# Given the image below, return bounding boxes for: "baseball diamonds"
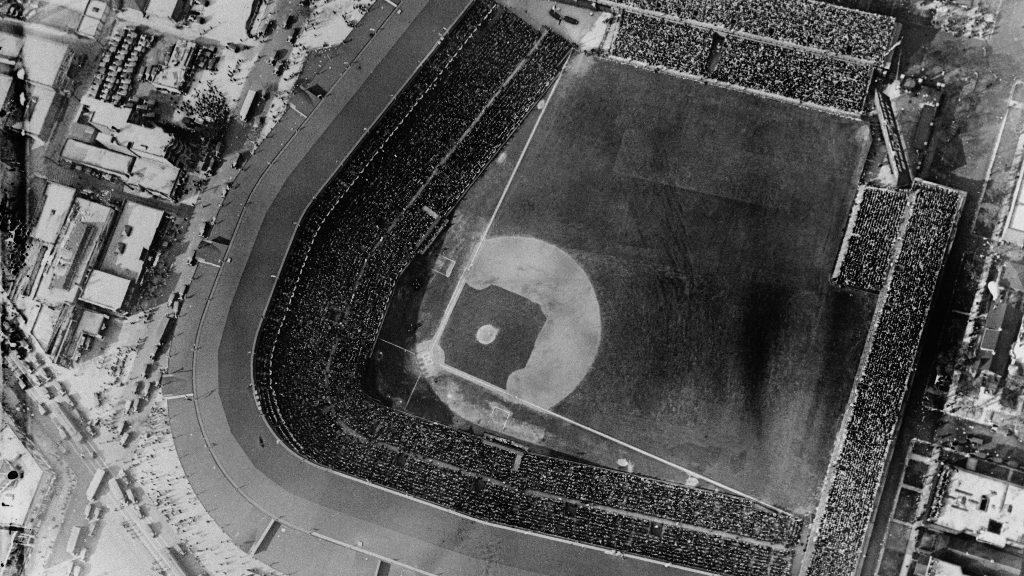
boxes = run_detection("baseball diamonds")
[362,48,877,520]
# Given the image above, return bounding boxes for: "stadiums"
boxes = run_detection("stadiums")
[162,0,802,576]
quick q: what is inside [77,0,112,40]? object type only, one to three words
house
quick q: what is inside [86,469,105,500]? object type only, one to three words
vehicle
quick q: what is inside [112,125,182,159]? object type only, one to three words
building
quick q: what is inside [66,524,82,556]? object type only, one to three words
vehicle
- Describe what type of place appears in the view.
sports ground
